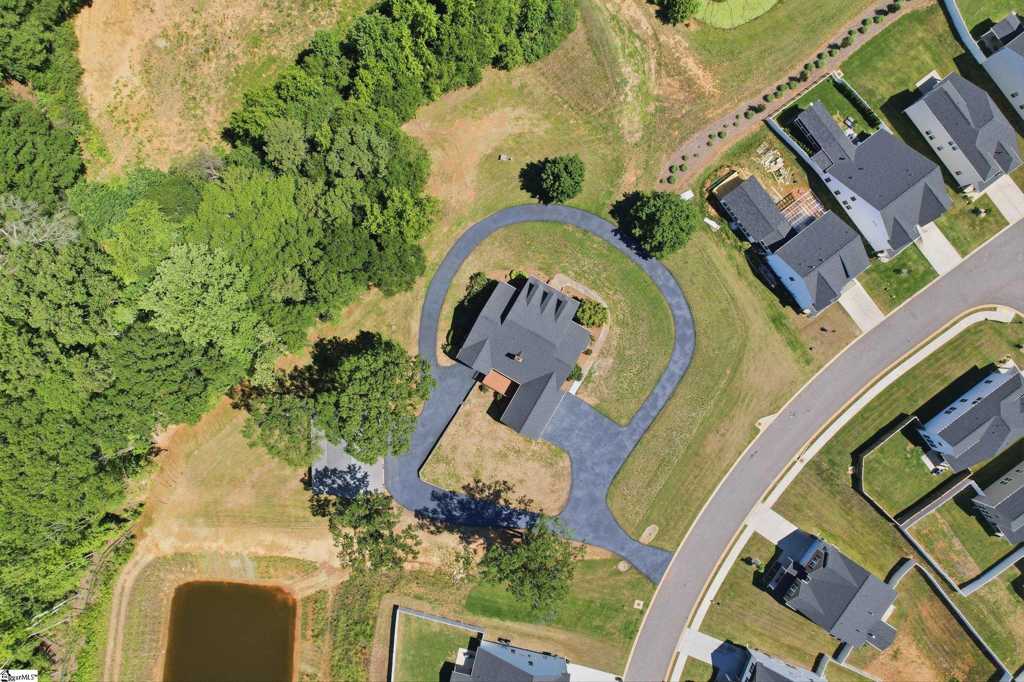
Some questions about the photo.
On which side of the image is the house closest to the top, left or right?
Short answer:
right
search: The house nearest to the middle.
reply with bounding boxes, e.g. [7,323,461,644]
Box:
[456,275,592,441]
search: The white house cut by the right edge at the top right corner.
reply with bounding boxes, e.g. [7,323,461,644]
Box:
[983,11,1024,108]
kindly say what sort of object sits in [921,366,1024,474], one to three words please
house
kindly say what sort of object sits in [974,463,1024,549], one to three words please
house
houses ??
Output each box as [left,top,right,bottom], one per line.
[974,463,1024,549]
[983,11,1024,108]
[777,539,900,653]
[449,642,570,682]
[794,100,953,259]
[719,176,871,317]
[921,366,1024,474]
[728,648,819,682]
[906,71,1024,192]
[456,275,592,441]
